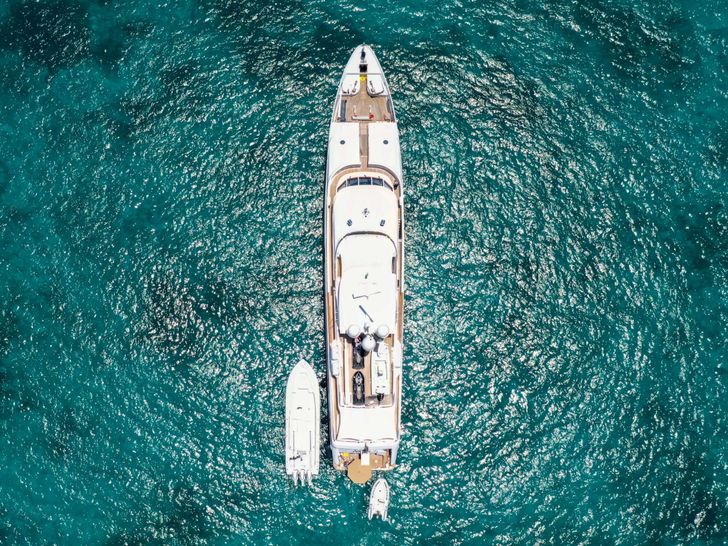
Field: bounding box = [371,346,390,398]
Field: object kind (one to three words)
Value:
boat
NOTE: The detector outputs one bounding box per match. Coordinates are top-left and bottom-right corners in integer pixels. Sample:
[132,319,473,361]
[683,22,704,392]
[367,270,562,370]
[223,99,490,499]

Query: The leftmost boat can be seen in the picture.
[285,358,319,487]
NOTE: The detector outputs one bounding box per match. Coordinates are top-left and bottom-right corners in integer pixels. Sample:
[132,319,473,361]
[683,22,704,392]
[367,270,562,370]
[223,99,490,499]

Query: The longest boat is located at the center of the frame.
[324,42,404,468]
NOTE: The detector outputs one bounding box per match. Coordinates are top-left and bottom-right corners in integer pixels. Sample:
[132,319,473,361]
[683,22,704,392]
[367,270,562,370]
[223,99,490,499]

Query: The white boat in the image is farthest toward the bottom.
[368,478,388,520]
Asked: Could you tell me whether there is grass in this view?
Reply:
No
